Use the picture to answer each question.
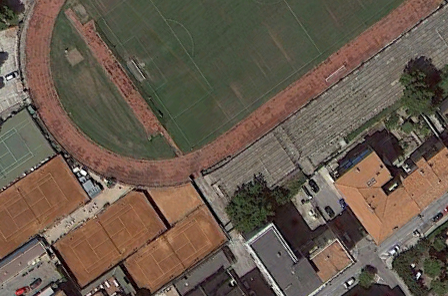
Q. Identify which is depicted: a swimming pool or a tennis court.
tennis court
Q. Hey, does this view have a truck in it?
No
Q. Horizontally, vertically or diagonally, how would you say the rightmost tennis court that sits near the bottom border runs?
diagonally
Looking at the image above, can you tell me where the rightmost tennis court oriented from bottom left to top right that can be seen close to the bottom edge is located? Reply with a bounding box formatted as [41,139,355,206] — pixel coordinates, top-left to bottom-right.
[126,205,228,291]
